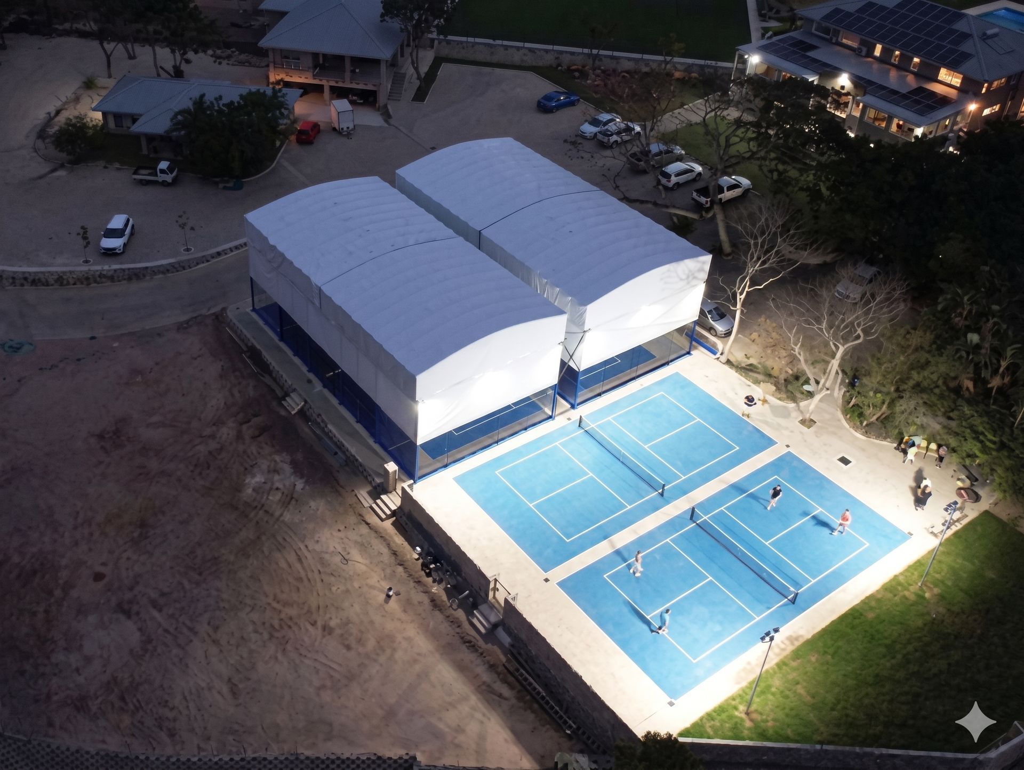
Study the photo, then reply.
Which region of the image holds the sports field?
top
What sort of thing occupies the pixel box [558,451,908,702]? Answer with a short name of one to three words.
sports court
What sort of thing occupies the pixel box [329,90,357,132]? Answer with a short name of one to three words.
trailer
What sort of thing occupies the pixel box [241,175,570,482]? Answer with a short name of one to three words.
tent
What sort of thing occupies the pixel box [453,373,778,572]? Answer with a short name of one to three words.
sports court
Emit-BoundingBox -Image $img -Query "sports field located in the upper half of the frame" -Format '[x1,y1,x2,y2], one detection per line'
[437,0,759,64]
